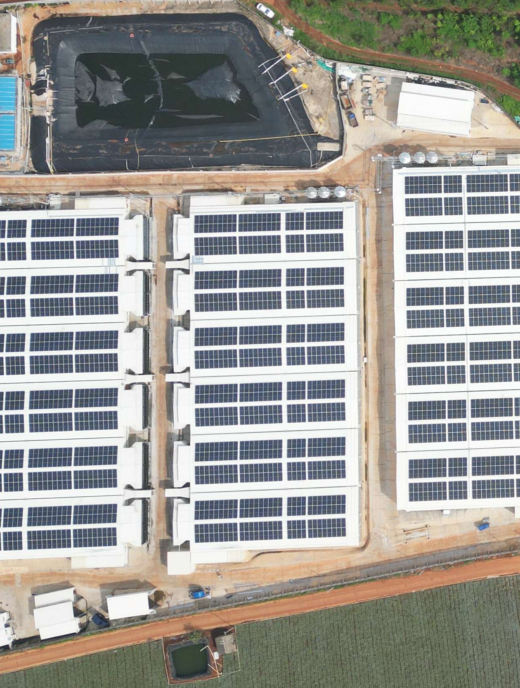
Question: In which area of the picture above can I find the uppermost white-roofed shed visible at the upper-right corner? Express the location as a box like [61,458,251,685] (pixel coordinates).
[397,82,474,138]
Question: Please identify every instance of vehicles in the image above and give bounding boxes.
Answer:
[90,612,108,628]
[27,587,77,612]
[477,522,492,532]
[33,619,81,644]
[255,2,274,18]
[340,92,354,113]
[348,112,358,128]
[0,612,11,631]
[0,628,18,647]
[189,590,205,599]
